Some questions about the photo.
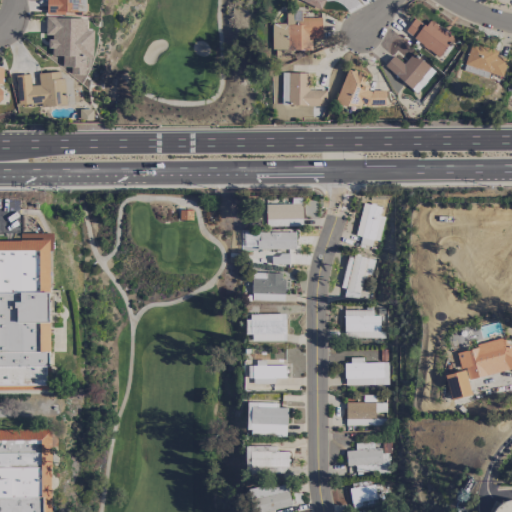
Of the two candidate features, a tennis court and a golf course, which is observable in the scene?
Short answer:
golf course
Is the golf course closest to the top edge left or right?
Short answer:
left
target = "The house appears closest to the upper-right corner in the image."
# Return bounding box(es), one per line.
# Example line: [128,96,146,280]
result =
[466,45,510,80]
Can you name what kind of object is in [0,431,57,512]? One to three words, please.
building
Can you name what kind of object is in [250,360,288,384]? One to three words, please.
house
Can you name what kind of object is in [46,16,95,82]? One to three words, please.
house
